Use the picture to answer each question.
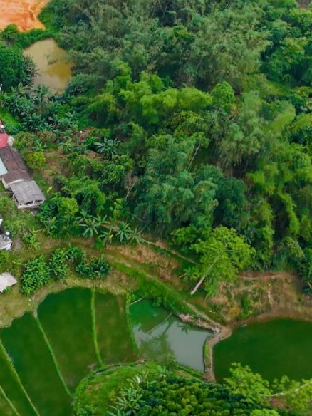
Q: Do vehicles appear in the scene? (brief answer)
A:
No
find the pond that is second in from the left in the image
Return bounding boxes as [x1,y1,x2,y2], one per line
[128,300,208,372]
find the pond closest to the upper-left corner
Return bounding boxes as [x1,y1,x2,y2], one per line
[22,42,72,97]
